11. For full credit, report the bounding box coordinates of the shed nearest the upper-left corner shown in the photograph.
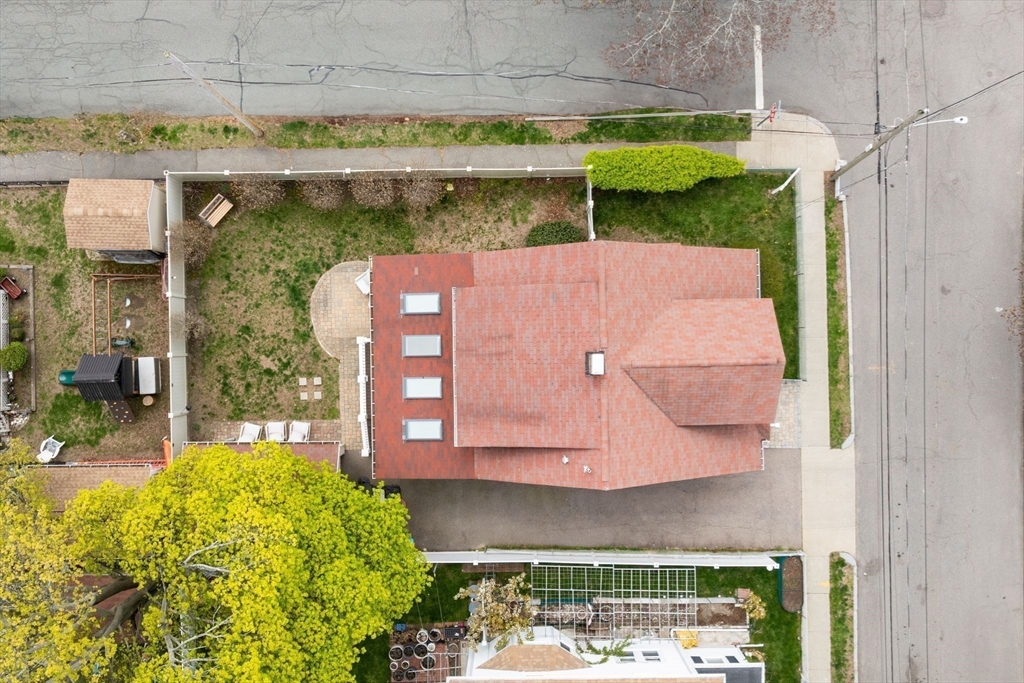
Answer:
[63,178,168,253]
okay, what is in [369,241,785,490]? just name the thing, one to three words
house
